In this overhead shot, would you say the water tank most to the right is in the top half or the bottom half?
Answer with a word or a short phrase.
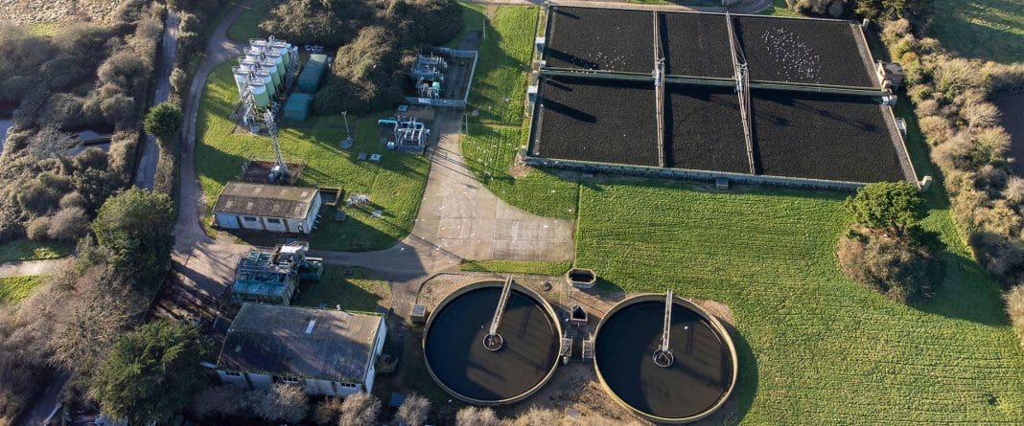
bottom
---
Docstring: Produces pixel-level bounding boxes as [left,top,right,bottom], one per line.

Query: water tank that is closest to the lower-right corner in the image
[593,287,739,426]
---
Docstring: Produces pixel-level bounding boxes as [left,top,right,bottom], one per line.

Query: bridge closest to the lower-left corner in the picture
[489,275,514,338]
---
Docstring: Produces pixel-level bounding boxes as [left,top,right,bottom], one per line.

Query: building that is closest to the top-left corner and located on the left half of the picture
[210,181,321,235]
